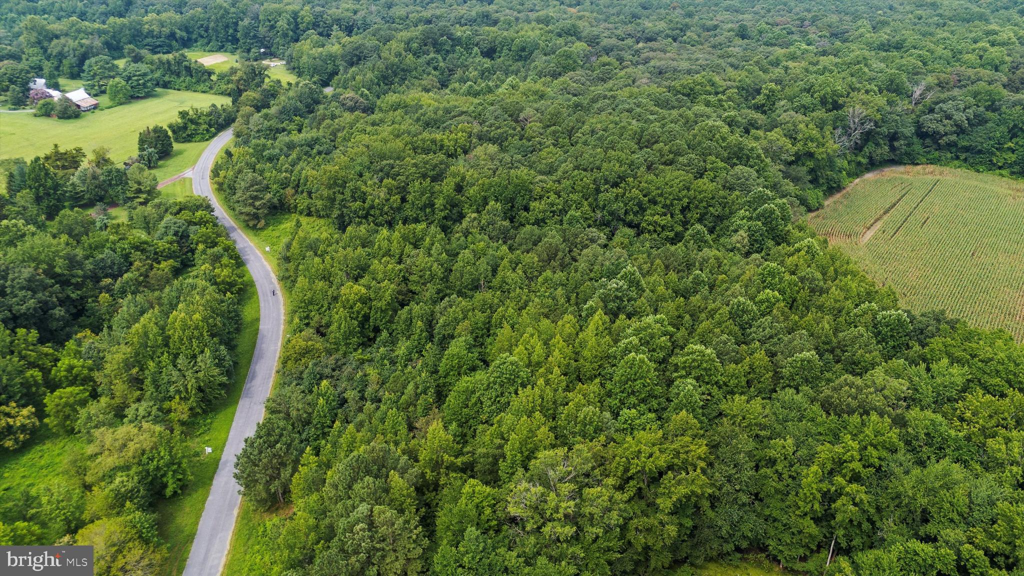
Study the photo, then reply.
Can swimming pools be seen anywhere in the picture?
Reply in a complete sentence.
No, I can't see a single swimming pool in this photo.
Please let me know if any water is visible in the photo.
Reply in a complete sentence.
No, there's no water in this view.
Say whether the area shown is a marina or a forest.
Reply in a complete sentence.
It's a forest.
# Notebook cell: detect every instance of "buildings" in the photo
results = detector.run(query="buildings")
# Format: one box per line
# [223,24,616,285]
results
[28,77,62,94]
[59,91,99,112]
